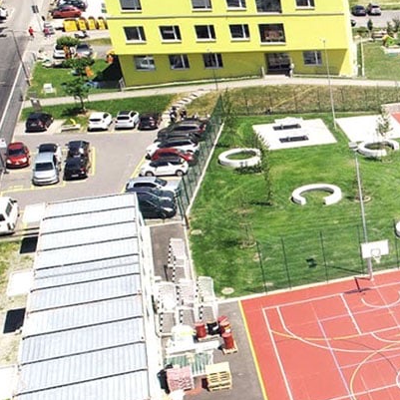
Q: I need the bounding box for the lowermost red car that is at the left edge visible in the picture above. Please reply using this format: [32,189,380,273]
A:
[2,140,30,165]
